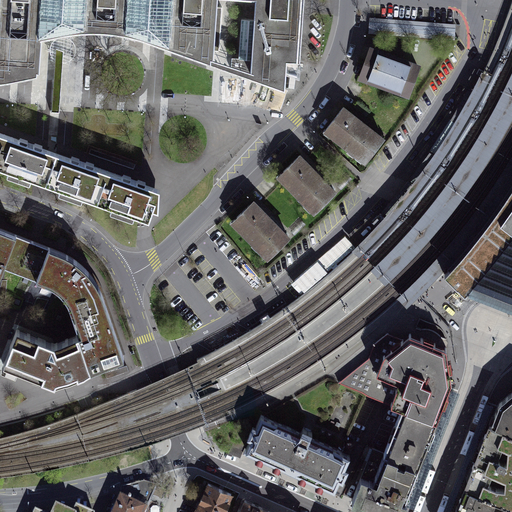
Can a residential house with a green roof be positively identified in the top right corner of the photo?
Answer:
No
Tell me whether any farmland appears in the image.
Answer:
No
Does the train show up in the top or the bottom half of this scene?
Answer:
top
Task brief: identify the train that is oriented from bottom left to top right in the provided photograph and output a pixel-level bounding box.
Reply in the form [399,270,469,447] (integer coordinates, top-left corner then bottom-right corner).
[365,26,512,256]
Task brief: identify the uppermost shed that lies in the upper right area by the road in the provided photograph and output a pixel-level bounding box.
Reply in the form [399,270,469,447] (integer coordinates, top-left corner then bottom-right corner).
[368,17,456,38]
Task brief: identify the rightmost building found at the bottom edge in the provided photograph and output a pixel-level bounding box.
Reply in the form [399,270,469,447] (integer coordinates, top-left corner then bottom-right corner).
[456,387,512,512]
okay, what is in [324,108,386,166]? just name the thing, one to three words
house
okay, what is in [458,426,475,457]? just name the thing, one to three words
vehicle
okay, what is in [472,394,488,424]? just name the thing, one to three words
vehicle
